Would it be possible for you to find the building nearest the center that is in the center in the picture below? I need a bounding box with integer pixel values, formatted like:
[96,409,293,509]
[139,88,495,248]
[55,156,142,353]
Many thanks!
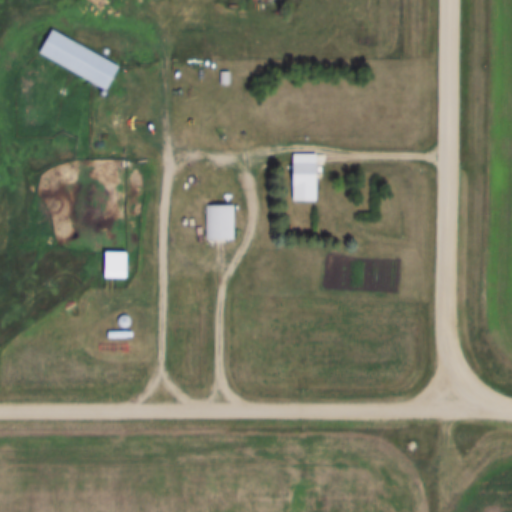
[206,204,236,246]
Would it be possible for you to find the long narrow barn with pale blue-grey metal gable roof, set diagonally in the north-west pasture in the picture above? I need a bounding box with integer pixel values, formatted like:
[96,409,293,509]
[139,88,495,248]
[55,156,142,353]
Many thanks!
[39,28,120,90]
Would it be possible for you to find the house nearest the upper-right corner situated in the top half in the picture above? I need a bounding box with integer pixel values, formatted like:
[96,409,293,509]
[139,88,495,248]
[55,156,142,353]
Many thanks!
[292,153,327,202]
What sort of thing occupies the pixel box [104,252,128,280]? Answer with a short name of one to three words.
shed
